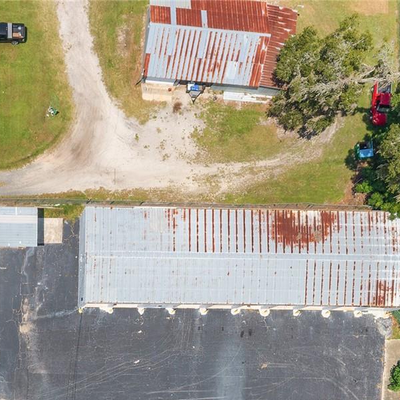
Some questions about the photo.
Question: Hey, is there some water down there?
No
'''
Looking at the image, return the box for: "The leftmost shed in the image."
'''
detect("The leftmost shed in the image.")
[0,207,38,251]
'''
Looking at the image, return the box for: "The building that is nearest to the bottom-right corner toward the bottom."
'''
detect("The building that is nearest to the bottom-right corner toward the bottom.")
[78,206,400,314]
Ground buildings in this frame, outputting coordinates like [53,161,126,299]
[78,206,400,314]
[0,207,38,251]
[139,0,299,100]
